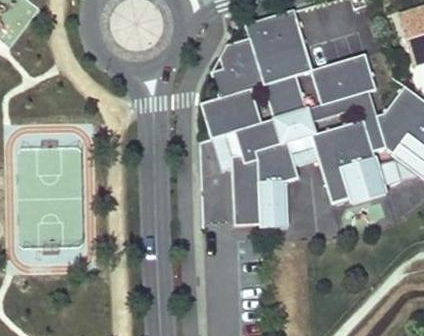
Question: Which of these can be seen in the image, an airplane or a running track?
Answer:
running track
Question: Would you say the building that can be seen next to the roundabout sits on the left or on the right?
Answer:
right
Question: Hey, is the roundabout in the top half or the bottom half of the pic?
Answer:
top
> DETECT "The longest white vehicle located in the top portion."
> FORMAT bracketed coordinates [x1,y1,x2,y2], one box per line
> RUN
[312,46,326,66]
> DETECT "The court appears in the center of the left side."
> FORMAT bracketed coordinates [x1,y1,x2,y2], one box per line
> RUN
[16,135,82,264]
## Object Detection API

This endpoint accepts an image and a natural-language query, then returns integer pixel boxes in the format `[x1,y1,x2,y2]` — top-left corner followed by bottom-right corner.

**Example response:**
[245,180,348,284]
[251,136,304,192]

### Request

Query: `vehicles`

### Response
[162,66,171,82]
[240,262,258,272]
[206,231,216,254]
[240,300,260,310]
[312,46,326,66]
[241,324,261,334]
[240,288,260,298]
[240,312,260,322]
[143,236,154,260]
